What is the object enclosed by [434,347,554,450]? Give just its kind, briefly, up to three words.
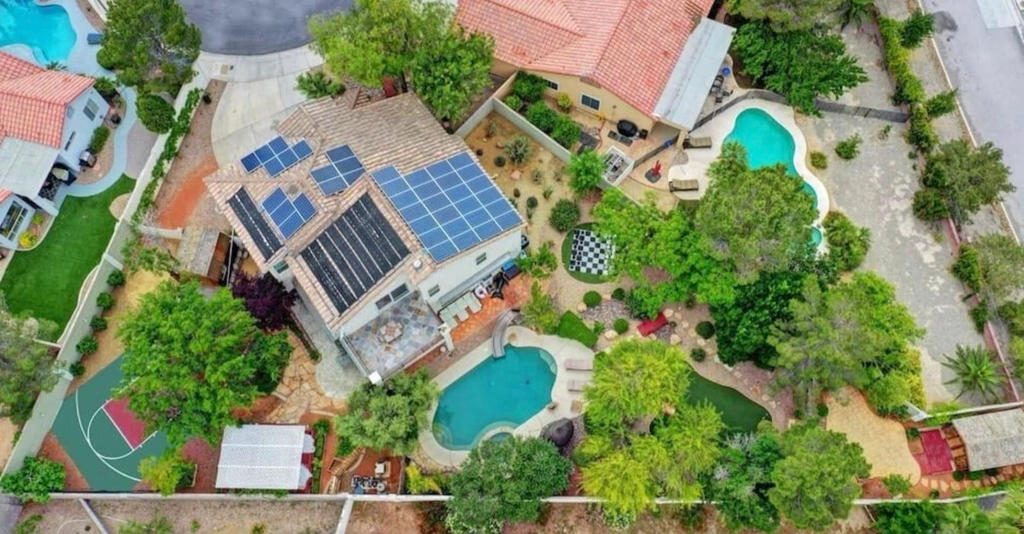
swimming pool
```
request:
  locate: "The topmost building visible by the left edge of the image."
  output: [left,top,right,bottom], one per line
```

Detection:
[0,52,112,252]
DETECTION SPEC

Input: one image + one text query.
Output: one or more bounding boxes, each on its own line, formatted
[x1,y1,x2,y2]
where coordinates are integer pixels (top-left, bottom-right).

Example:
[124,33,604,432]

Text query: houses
[0,52,112,252]
[453,0,735,144]
[210,82,529,393]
